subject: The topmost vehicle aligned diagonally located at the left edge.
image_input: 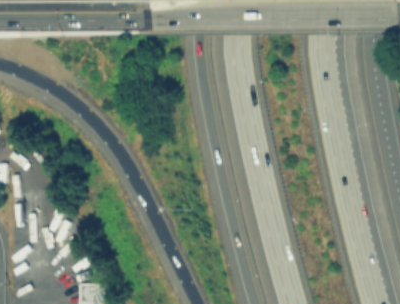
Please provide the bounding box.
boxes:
[10,150,34,172]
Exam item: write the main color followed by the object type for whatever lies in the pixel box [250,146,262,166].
white vehicle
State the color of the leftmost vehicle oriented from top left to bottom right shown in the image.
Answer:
white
